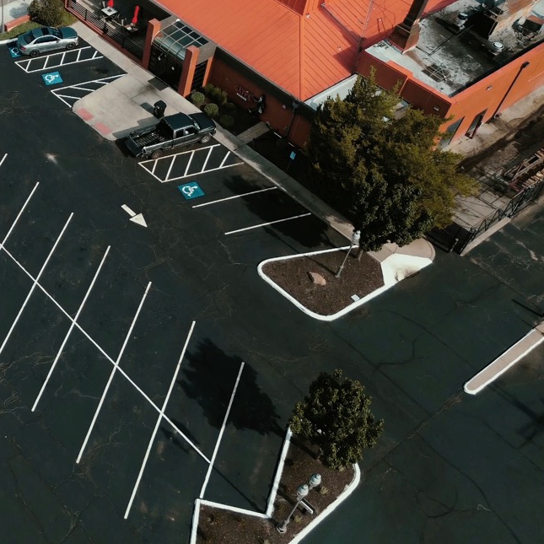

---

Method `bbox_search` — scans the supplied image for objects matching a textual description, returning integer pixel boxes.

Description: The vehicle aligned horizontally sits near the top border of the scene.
[14,24,82,58]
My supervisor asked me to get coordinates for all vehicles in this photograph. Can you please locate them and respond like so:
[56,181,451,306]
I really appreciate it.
[123,113,220,160]
[14,24,82,58]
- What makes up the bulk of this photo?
paved ground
